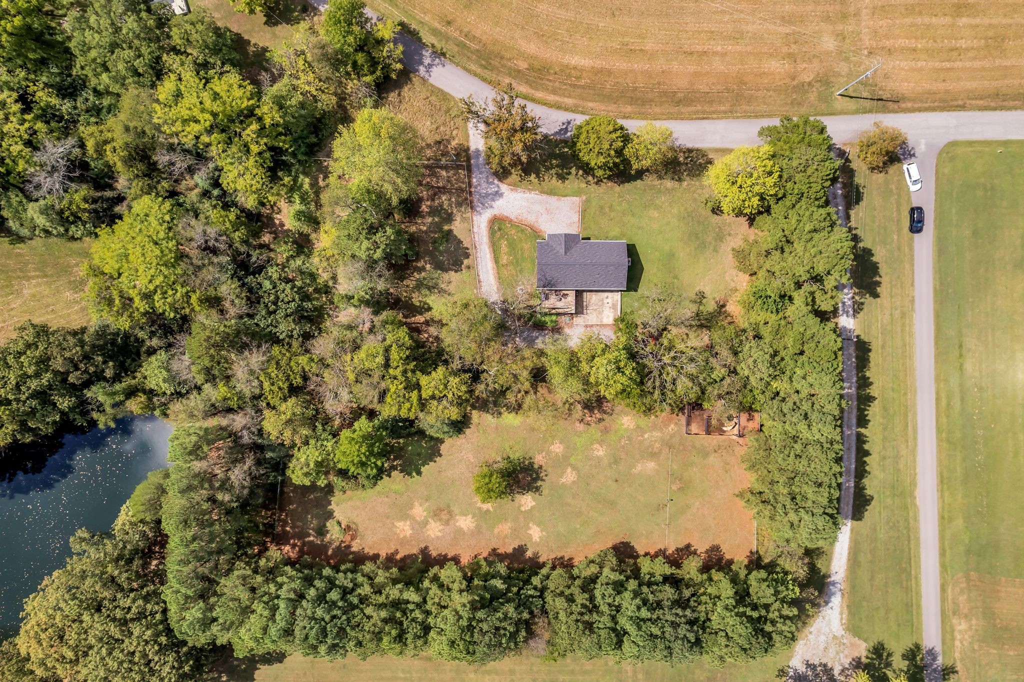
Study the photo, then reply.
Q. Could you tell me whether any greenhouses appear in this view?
No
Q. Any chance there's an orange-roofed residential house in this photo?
No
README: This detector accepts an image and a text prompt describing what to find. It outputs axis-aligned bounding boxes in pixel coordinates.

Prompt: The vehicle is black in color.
[907,206,924,234]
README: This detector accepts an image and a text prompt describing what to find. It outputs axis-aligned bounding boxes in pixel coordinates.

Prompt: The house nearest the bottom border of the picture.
[537,232,629,290]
